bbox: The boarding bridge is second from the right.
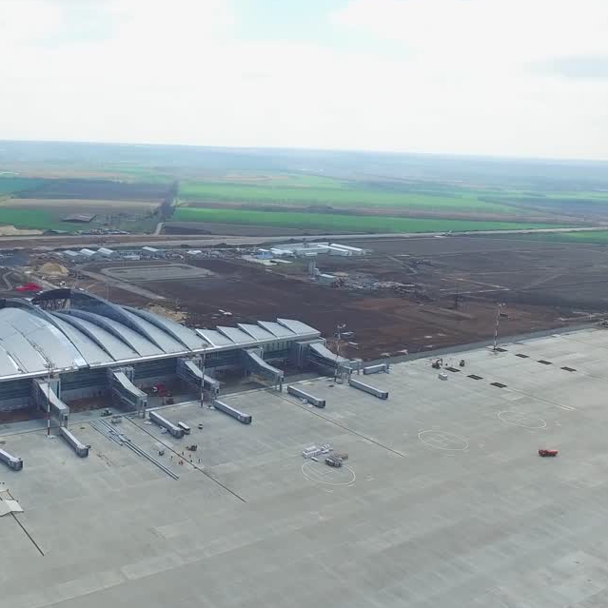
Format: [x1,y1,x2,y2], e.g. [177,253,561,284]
[232,345,286,391]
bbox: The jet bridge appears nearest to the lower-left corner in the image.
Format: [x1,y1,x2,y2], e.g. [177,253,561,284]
[27,372,69,427]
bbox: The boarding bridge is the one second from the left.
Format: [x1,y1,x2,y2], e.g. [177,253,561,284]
[99,363,148,416]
